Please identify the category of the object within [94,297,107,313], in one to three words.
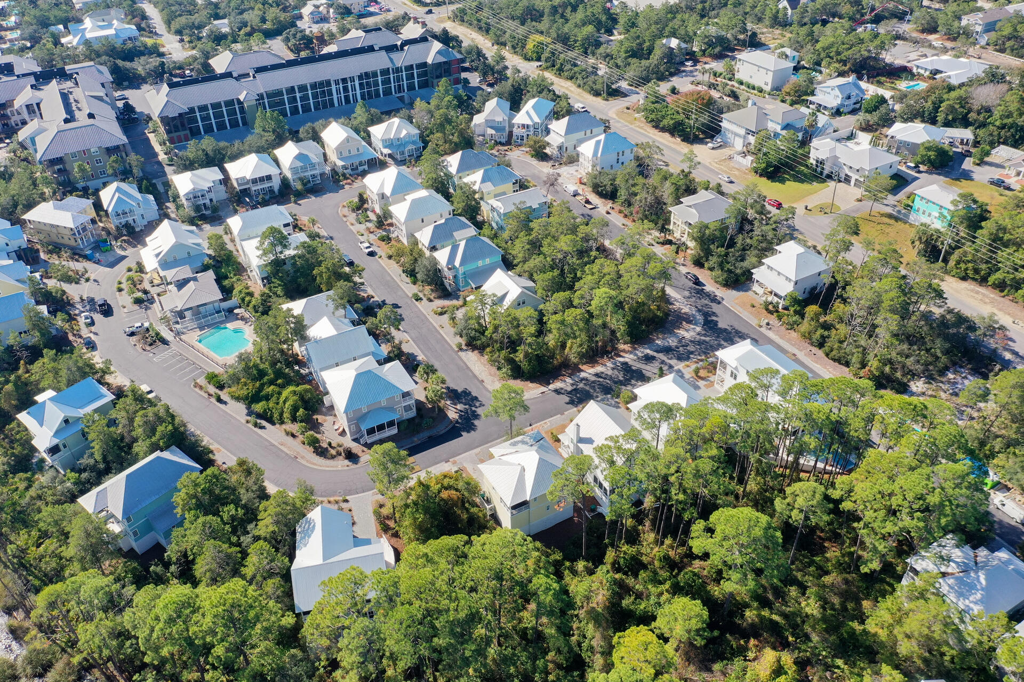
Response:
vehicle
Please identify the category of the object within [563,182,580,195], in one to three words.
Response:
vehicle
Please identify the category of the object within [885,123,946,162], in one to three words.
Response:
house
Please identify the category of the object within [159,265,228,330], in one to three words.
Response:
building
